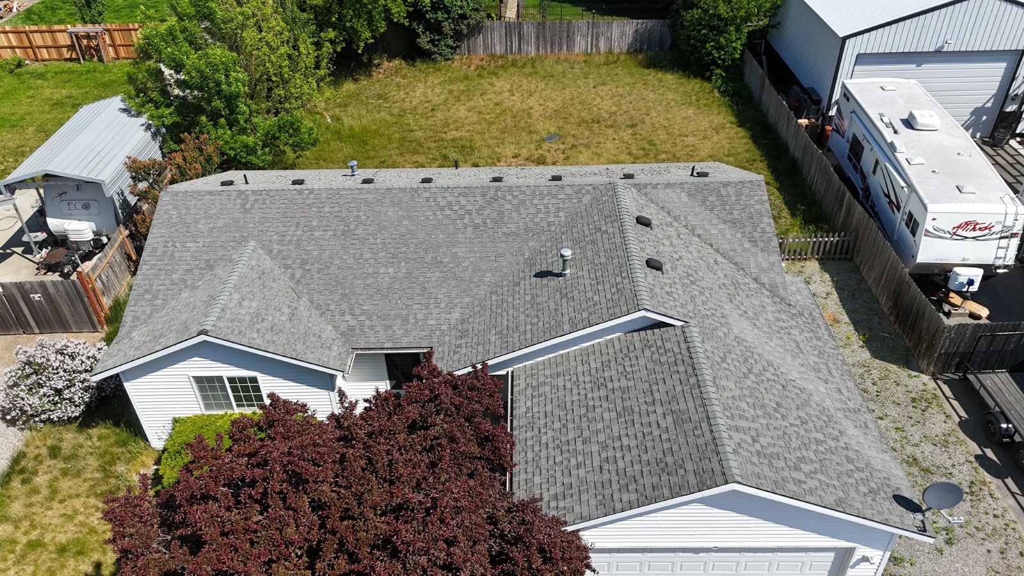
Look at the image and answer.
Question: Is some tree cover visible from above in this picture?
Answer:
Yes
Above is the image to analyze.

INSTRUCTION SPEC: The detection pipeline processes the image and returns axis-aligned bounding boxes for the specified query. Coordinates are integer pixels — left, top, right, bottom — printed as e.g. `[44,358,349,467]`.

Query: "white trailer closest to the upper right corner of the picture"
[833,84,1021,302]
